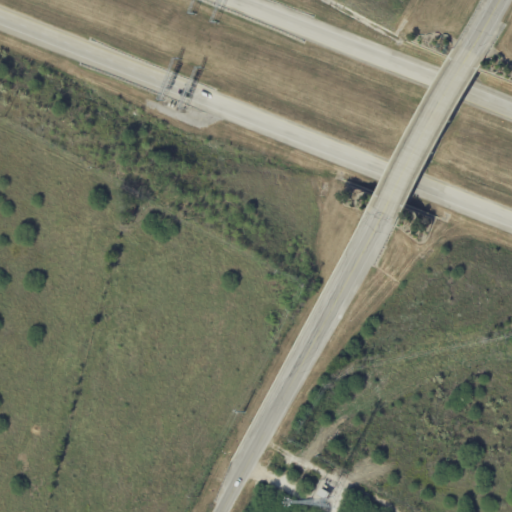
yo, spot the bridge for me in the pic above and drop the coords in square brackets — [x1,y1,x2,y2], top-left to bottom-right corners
[373,57,480,208]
